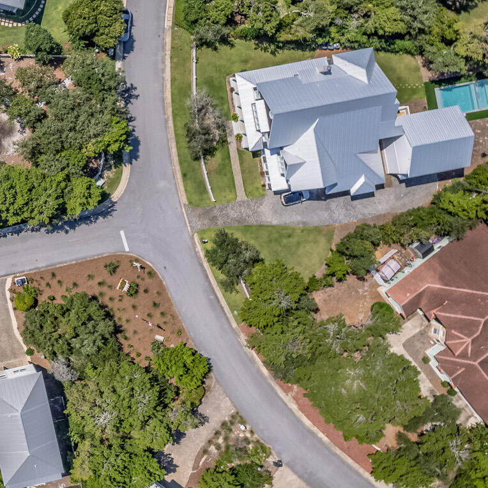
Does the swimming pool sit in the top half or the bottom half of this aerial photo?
top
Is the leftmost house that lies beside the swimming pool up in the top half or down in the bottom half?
top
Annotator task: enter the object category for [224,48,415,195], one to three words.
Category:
house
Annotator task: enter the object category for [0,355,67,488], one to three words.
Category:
house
